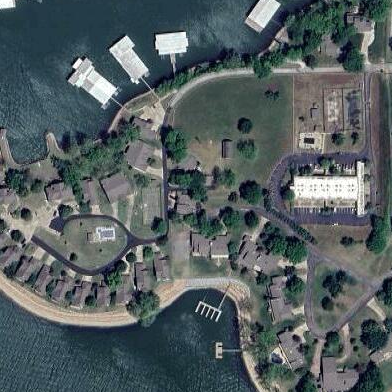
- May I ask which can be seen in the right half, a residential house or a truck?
residential house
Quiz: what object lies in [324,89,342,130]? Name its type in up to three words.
tennis court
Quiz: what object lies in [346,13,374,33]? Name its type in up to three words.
house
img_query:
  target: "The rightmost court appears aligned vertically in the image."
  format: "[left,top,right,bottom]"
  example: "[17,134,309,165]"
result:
[343,89,362,129]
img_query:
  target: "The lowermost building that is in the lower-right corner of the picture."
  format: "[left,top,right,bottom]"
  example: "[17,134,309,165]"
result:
[323,358,359,392]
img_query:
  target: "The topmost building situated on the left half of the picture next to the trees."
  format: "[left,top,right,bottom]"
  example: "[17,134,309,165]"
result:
[130,114,160,142]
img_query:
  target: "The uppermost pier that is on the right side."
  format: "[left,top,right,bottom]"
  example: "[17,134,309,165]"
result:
[246,0,281,31]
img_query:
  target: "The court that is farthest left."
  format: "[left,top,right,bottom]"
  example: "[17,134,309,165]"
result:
[143,189,161,225]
